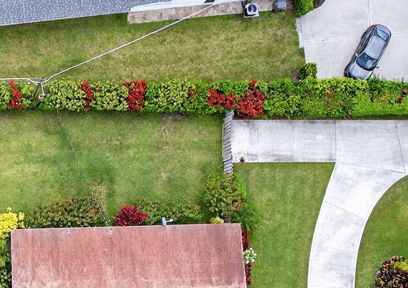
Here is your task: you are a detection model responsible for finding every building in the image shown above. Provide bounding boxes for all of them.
[10,217,247,288]
[0,0,270,26]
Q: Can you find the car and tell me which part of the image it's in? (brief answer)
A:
top right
